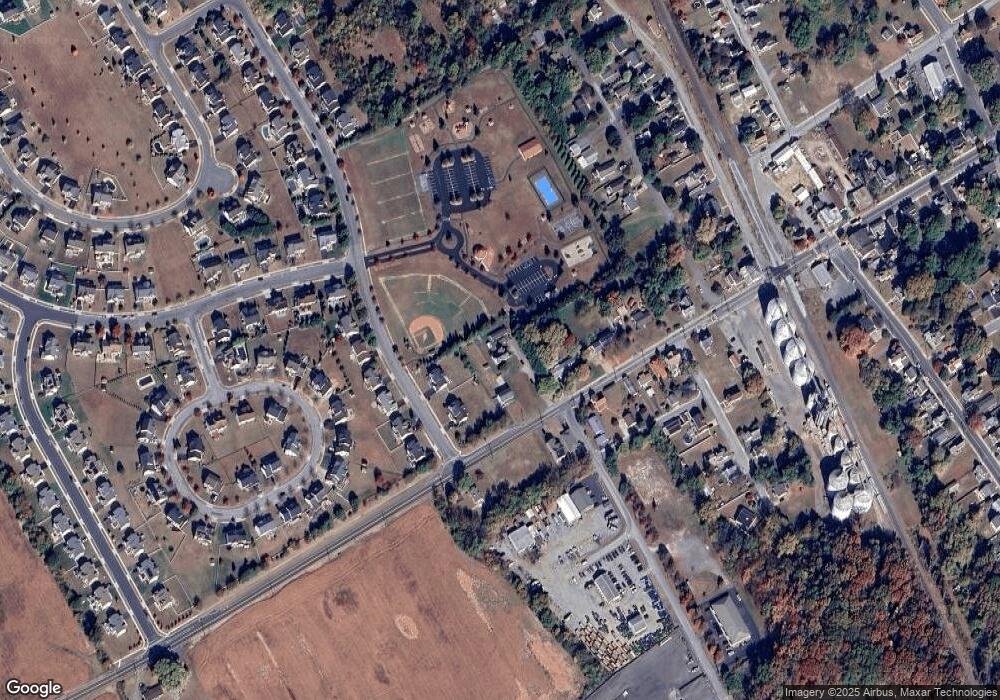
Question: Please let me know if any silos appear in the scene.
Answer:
Yes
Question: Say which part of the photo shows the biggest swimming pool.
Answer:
top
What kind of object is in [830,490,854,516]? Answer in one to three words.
silo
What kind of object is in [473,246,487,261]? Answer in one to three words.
gazebo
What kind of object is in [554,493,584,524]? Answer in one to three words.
building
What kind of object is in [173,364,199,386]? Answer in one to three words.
house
